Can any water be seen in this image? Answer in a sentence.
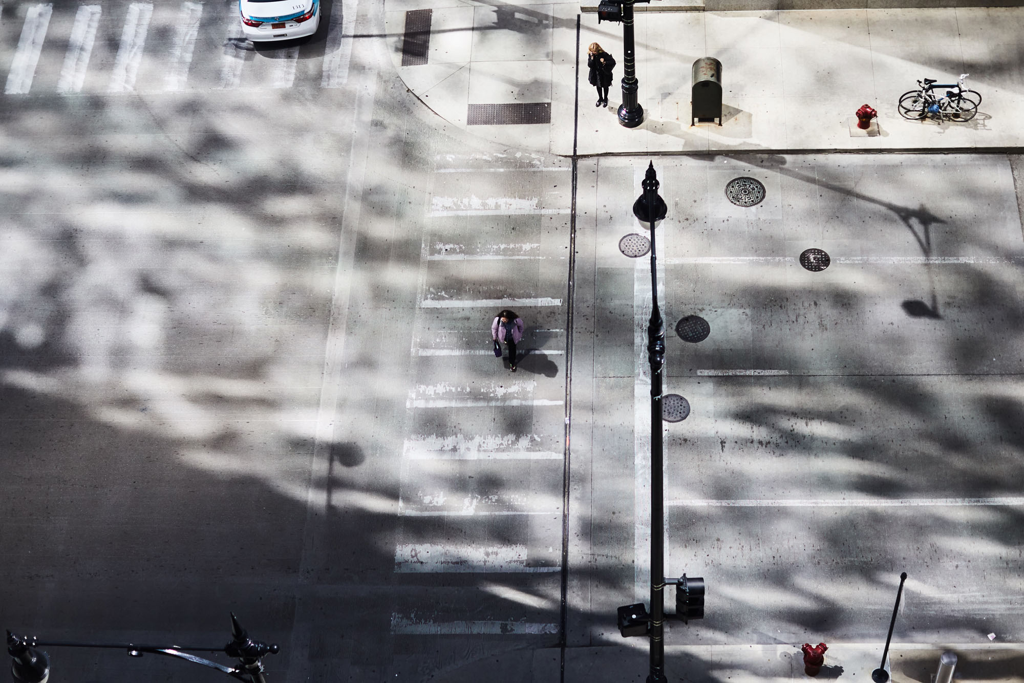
No, water can't be seen anywhere here.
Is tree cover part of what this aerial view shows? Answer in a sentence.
No, no tree cover is visible.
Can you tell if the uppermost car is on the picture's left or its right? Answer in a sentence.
You can find the uppermost car on the left side of the picture.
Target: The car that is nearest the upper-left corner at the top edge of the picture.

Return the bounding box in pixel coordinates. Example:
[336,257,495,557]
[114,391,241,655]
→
[236,0,329,43]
